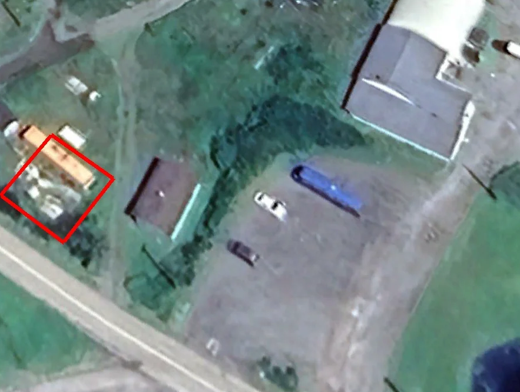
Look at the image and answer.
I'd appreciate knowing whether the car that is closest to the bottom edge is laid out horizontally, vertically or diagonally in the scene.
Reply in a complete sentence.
The car that is closest to the bottom edge is oriented diagonally.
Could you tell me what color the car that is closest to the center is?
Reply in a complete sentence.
From above, the car that is closest to the center appears white.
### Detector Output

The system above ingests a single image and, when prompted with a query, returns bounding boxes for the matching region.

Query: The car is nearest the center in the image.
[252,190,290,223]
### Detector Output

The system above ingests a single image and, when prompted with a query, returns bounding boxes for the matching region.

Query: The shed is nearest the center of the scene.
[127,158,205,241]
